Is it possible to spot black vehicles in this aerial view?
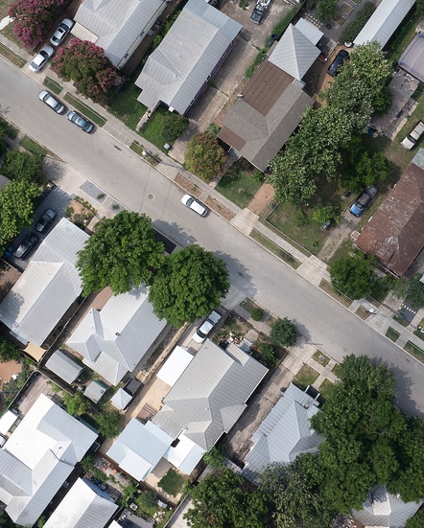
Yes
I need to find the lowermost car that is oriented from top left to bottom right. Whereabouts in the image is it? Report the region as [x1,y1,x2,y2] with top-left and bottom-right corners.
[181,193,209,217]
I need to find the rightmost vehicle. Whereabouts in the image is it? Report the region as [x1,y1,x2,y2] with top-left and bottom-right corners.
[399,118,424,152]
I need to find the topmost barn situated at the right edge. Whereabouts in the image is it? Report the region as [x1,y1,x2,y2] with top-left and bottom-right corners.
[354,0,412,48]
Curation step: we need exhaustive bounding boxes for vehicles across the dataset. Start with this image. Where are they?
[399,118,424,152]
[13,231,40,261]
[350,182,380,219]
[66,110,96,134]
[181,193,209,217]
[0,434,9,450]
[251,0,271,28]
[34,206,60,235]
[324,51,349,82]
[49,18,75,45]
[39,92,67,115]
[29,45,55,73]
[192,311,223,343]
